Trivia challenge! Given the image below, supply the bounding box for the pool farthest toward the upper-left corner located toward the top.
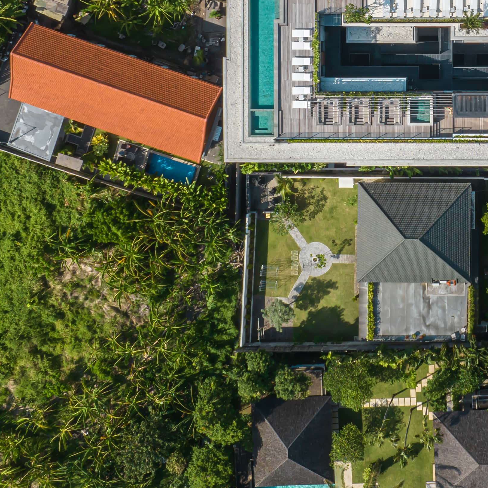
[144,150,200,178]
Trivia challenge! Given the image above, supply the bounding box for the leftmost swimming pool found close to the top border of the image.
[252,0,280,110]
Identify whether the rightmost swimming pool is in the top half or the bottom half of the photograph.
top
